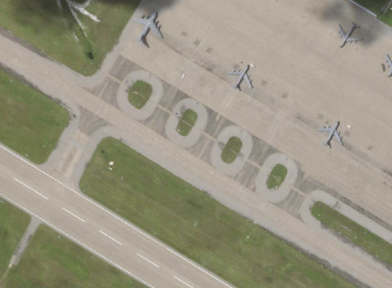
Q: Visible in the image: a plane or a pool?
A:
plane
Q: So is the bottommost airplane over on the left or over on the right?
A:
right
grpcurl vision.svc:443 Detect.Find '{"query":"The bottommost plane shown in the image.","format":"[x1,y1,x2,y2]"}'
[320,121,344,146]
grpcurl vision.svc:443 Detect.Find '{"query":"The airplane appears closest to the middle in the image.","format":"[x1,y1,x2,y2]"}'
[229,63,254,89]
